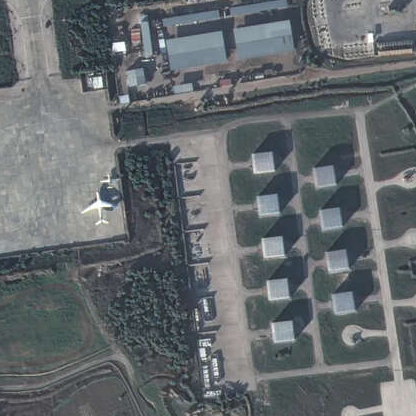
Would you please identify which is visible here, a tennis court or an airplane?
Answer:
airplane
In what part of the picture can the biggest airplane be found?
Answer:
left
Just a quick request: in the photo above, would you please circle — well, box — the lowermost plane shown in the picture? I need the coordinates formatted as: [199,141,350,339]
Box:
[81,191,119,223]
